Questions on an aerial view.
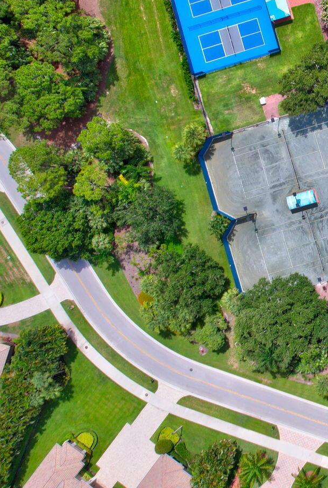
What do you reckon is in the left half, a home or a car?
home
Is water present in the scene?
No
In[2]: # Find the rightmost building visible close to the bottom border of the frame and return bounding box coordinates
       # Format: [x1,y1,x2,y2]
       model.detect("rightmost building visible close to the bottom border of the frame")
[137,453,193,488]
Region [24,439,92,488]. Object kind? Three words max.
house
